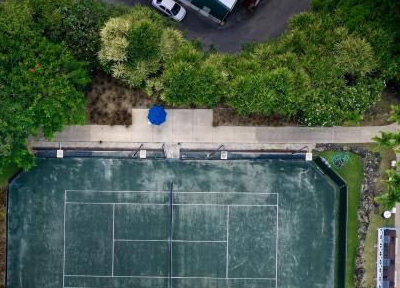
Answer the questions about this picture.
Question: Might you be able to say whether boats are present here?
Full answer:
No, there appears to be no boat in this shot.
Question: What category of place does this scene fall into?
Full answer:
What you see here is a sports ground.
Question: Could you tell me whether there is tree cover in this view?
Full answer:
Yes, tree cover can be seen from above here.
